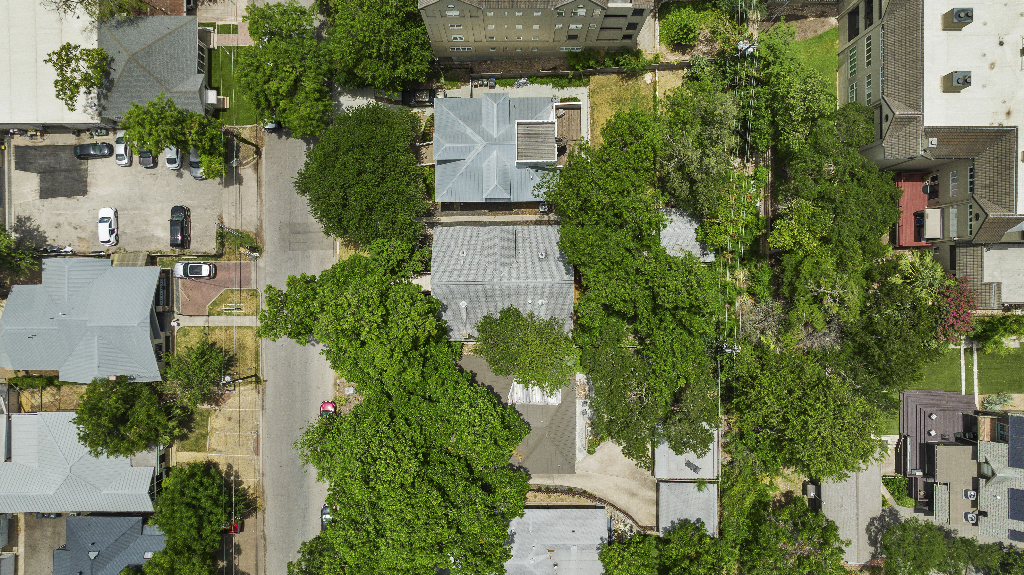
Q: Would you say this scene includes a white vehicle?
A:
Yes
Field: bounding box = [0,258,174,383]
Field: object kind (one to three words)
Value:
house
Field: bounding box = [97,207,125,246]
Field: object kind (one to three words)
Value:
car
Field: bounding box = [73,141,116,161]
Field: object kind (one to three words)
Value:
car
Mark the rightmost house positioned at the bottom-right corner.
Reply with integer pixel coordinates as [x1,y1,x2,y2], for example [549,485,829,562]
[923,409,1024,541]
